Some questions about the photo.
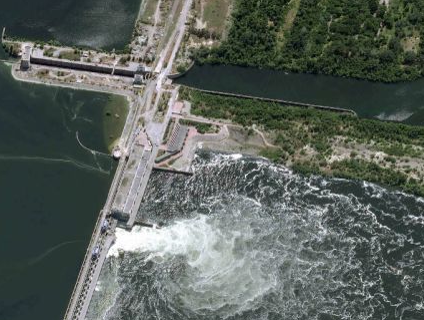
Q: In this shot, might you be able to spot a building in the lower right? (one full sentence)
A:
No, there's no building to be seen in the lower right.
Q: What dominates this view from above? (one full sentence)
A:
The largest share of the image is taken up by water.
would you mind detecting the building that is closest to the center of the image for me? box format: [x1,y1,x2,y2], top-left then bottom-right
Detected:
[165,124,189,151]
